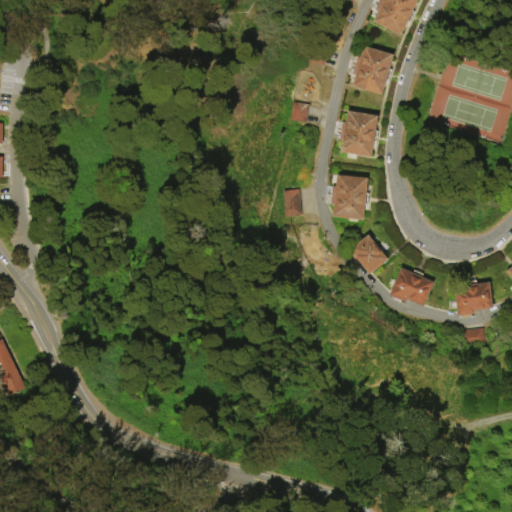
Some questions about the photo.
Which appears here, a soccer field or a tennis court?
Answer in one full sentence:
Visible in the photo is a tennis court.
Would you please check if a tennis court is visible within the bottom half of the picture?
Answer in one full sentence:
No, no tennis court is visible within the bottom half of the picture.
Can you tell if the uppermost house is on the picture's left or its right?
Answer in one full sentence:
The uppermost house appears in the right half of the scene.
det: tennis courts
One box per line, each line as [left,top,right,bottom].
[428,86,512,142]
[438,56,512,108]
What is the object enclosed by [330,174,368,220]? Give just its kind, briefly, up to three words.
house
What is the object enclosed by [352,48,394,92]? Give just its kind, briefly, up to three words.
house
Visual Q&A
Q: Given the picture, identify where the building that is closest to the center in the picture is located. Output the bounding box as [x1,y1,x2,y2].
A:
[284,188,304,216]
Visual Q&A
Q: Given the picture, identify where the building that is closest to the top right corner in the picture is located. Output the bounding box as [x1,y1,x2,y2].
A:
[372,0,418,33]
